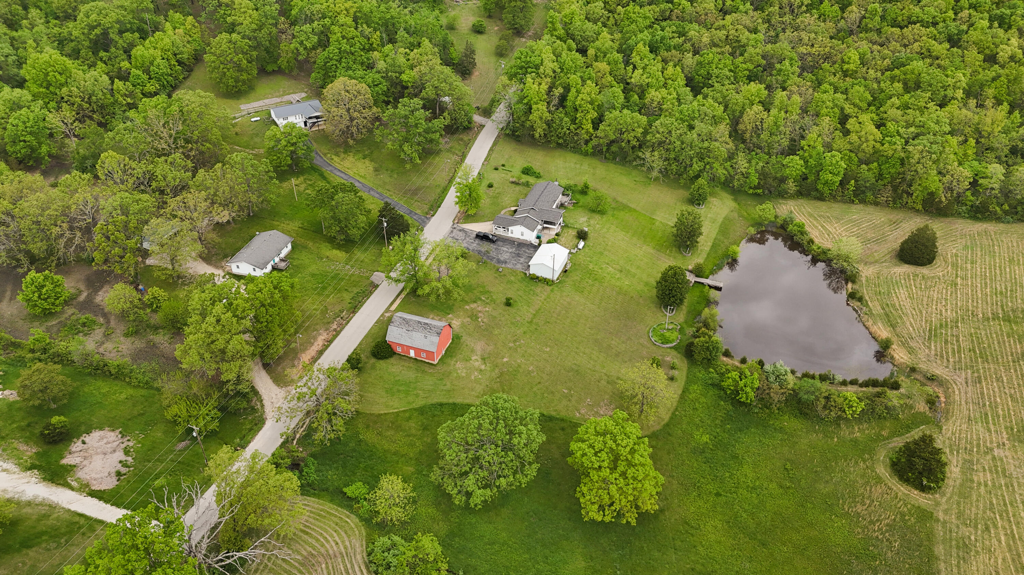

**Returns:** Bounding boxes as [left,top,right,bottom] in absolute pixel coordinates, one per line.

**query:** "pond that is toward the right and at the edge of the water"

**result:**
[715,229,895,381]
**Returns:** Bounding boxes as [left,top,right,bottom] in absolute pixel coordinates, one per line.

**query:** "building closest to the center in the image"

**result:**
[529,243,569,280]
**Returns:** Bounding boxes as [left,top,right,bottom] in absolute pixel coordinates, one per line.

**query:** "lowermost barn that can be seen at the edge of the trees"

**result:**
[386,311,453,364]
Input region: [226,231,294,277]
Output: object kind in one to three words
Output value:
house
